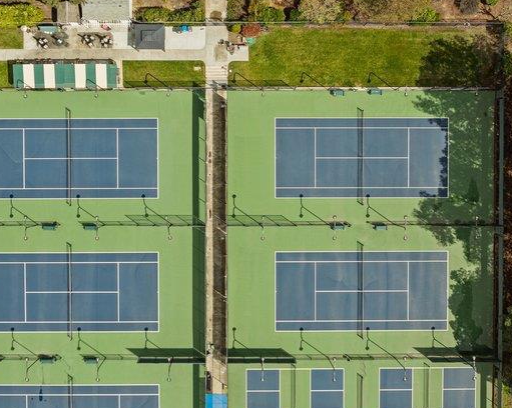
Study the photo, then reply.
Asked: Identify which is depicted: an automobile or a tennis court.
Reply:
tennis court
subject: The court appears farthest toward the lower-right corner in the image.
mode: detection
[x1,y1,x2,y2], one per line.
[362,357,491,408]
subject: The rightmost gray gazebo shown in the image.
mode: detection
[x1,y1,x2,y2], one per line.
[134,25,166,52]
